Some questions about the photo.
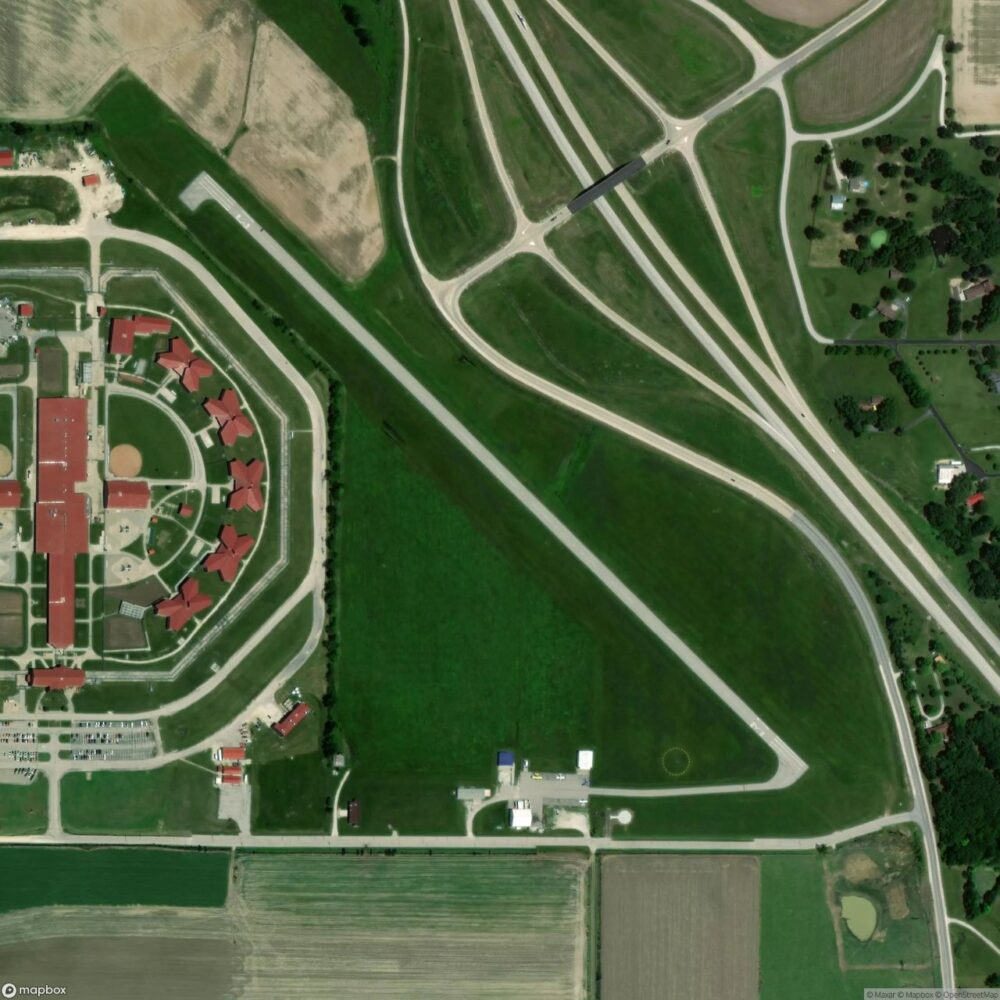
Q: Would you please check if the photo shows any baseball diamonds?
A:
Yes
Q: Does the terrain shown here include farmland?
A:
Yes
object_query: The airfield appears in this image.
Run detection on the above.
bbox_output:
[180,172,809,821]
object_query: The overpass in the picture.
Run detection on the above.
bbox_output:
[567,156,646,214]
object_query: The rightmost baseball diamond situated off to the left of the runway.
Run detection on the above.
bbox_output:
[107,388,190,478]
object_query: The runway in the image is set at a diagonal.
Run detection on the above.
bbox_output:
[208,174,807,764]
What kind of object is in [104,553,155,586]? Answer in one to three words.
basketball court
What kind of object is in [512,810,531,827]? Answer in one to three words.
hangar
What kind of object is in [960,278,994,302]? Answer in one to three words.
house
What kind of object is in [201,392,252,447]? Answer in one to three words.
building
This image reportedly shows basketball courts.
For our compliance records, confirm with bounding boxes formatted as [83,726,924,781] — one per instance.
[105,511,147,551]
[0,556,16,583]
[0,511,16,551]
[104,553,155,586]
